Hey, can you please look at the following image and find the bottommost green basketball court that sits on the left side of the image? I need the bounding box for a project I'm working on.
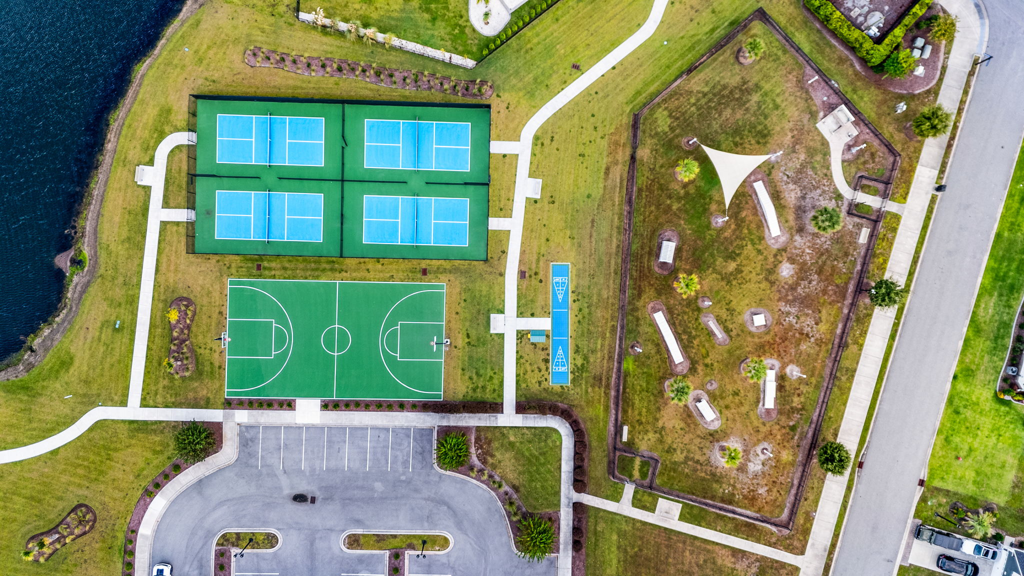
[225,278,446,401]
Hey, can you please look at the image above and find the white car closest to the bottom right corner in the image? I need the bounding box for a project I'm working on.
[959,535,998,559]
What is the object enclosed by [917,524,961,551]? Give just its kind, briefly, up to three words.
car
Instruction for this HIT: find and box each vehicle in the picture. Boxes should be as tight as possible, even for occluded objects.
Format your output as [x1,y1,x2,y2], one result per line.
[153,564,171,576]
[917,524,961,551]
[959,535,998,559]
[938,554,980,576]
